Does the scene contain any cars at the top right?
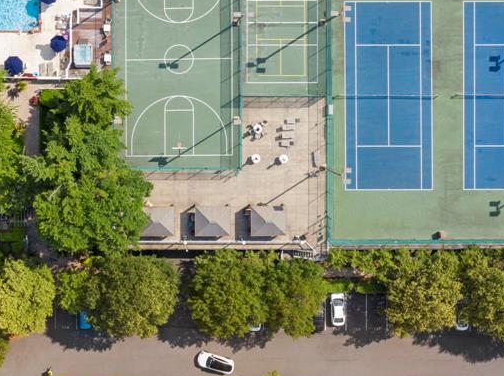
No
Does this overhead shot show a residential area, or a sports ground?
sports ground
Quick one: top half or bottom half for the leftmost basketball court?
top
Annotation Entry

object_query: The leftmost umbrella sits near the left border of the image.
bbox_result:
[4,56,23,75]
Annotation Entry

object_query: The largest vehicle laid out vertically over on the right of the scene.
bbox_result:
[329,292,347,330]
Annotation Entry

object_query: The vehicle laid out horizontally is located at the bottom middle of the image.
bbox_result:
[197,350,235,373]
